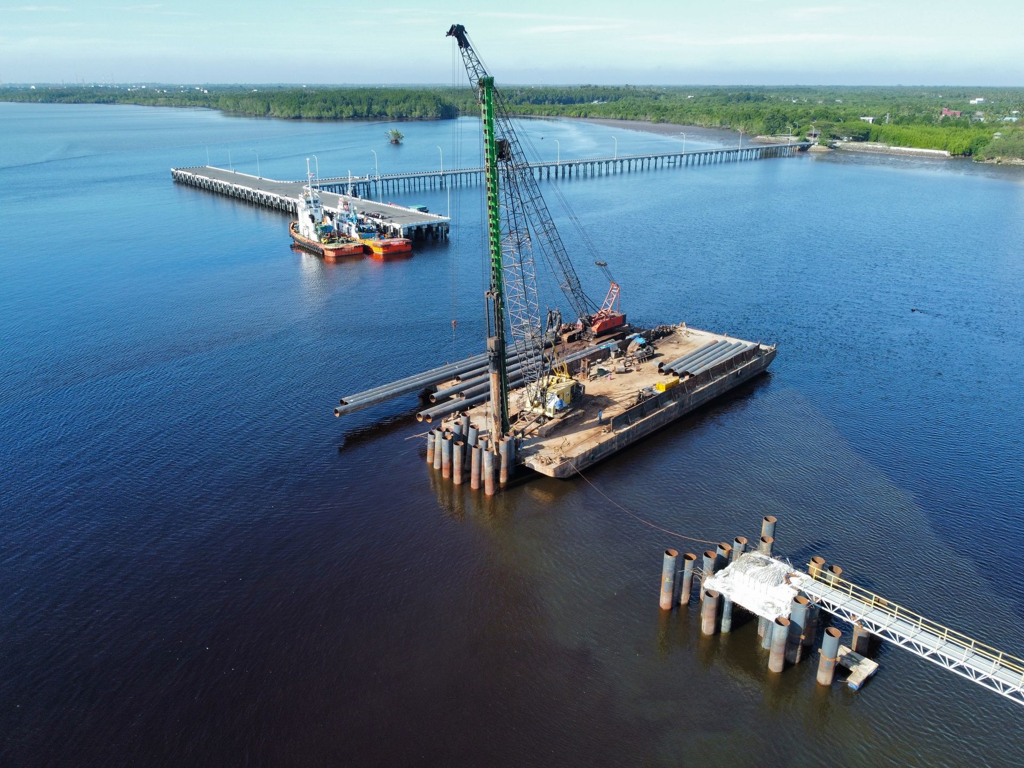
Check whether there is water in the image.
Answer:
Yes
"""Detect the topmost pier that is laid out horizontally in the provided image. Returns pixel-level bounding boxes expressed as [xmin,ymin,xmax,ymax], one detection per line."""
[274,142,815,190]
